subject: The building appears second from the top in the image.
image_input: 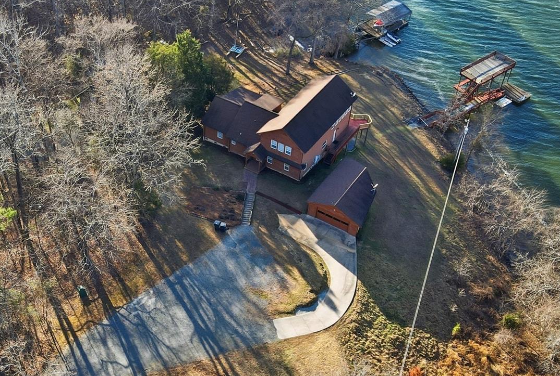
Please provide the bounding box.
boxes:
[200,74,372,180]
